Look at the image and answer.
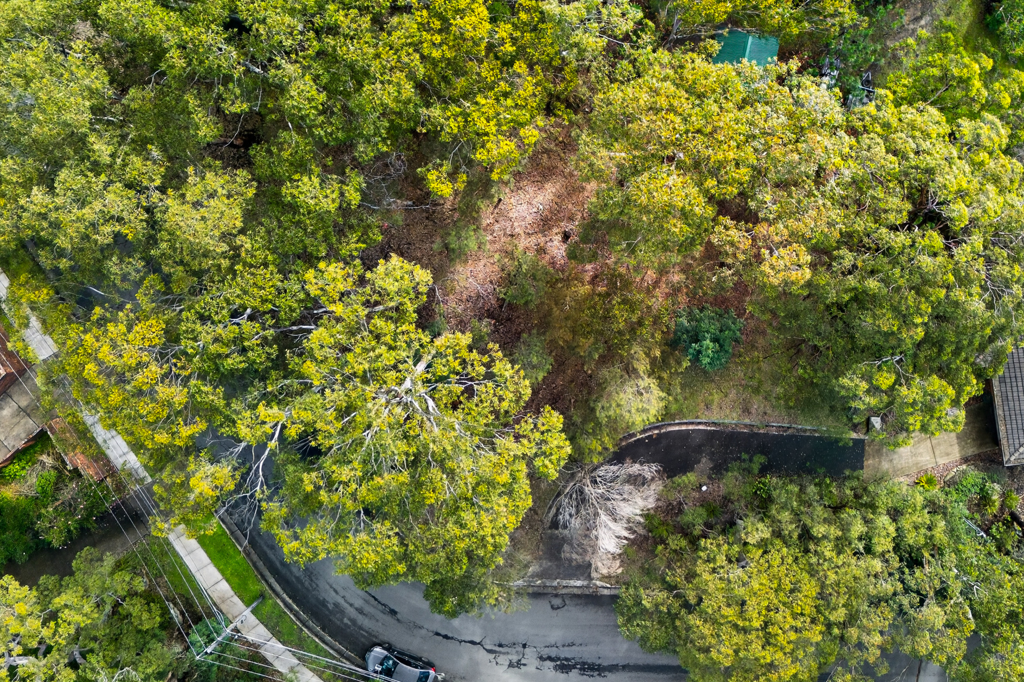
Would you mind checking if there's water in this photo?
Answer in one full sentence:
No, the scene doesn't show any water.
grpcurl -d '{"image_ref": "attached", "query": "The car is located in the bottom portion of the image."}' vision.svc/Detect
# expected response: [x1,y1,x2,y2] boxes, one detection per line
[367,646,434,682]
